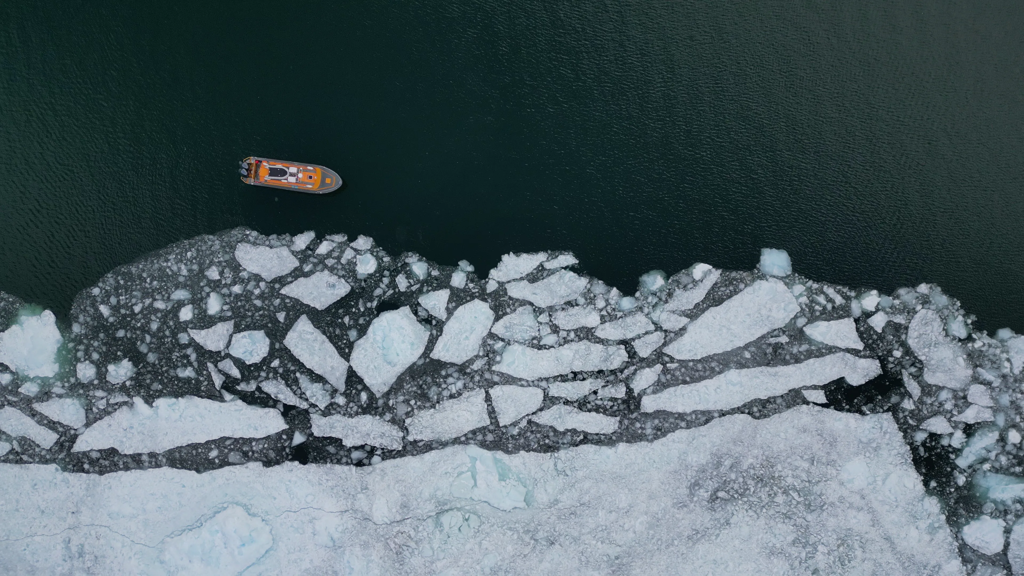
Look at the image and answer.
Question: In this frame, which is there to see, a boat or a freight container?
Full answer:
Of the two, only a boat appears.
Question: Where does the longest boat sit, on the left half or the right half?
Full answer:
The longest boat sits on the left side.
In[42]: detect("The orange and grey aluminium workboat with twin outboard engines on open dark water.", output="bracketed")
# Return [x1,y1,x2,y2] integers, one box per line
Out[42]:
[240,156,343,194]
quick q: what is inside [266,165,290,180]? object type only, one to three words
boat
